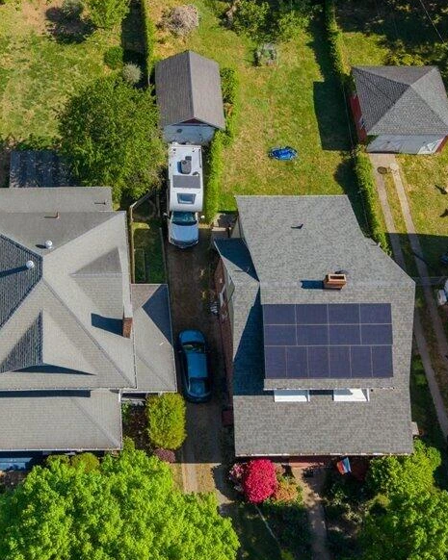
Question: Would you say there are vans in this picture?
Yes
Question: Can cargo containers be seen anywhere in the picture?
No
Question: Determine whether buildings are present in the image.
Yes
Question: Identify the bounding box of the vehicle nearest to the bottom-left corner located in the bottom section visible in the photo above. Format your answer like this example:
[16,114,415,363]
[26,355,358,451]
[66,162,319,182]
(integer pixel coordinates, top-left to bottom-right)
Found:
[176,329,216,407]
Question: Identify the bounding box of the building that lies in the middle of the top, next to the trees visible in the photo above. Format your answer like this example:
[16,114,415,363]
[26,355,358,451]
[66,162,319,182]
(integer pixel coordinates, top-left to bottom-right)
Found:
[158,50,226,148]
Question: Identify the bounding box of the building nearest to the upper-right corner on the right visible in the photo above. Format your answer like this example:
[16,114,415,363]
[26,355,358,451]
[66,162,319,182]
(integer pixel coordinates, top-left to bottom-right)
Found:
[346,65,448,153]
